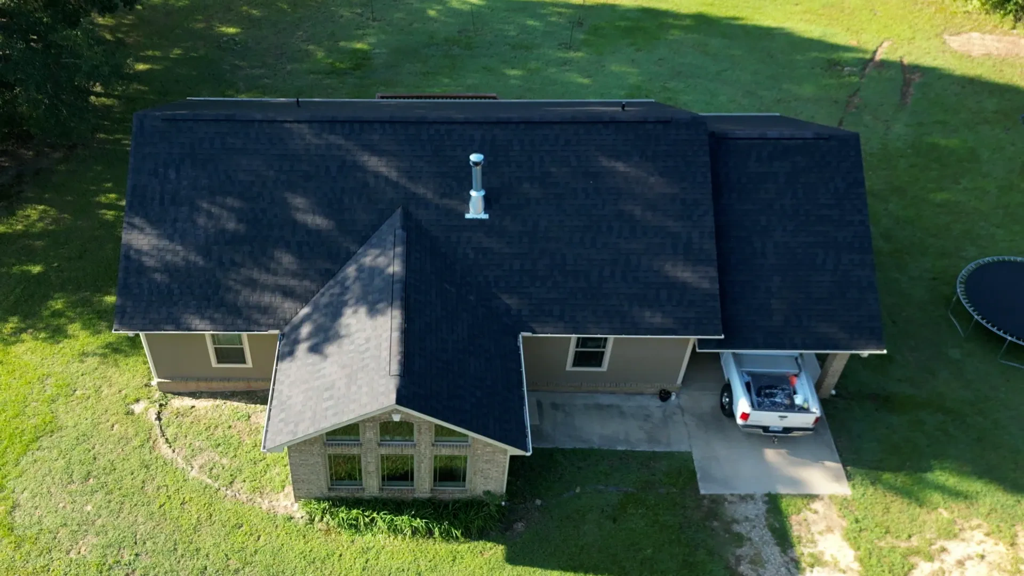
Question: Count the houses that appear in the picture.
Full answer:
My tally gives 1 house in this photo.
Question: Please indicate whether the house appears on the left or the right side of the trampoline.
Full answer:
From the viewer's perspective, the house falls to the left of the trampoline.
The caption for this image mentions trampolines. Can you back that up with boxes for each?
[944,255,1024,373]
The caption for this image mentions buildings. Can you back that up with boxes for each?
[112,96,888,502]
